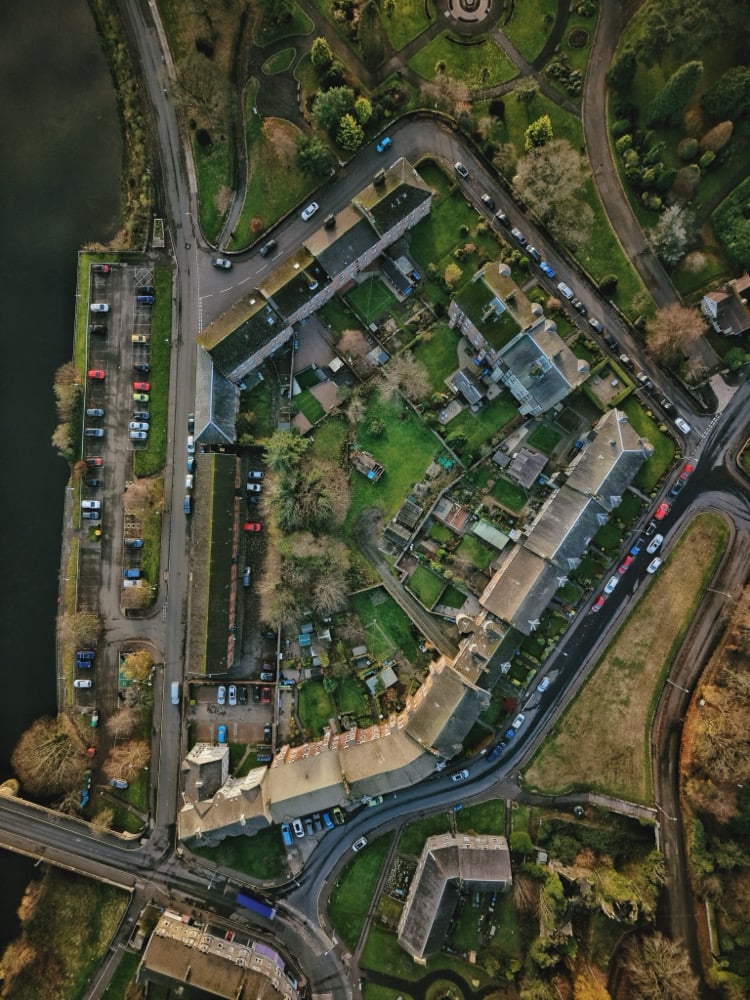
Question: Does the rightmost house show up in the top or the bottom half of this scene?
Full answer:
The rightmost house sits in the top half of the picture.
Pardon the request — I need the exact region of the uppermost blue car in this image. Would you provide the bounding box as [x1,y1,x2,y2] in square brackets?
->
[375,136,392,150]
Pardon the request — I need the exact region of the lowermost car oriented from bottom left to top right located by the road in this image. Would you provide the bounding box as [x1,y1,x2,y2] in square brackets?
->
[350,838,368,854]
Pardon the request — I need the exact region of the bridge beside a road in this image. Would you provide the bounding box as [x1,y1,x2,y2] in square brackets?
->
[0,776,132,896]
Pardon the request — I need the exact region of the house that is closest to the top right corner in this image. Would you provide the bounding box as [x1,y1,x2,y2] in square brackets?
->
[696,276,750,342]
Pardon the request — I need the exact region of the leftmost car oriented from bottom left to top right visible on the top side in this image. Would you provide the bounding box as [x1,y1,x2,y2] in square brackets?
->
[258,239,276,255]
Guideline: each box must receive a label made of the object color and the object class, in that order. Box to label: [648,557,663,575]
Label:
white car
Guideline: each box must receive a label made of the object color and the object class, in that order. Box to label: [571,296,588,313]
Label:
gray car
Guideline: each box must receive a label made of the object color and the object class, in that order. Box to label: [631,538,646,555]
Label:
blue car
